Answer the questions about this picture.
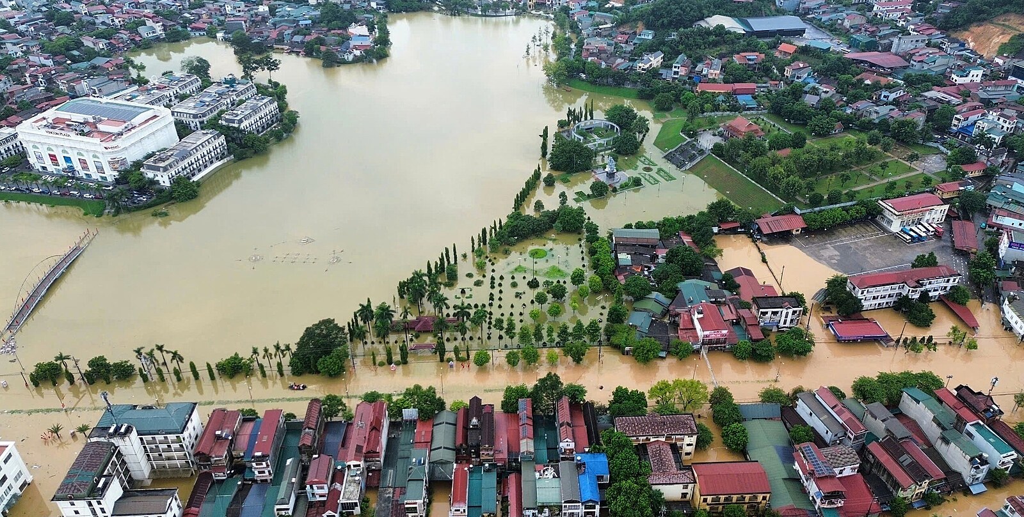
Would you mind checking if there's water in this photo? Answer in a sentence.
Yes, the picture does contain water.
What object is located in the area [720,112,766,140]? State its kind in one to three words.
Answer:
building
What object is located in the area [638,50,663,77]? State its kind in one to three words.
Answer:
house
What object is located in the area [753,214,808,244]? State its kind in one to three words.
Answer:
shed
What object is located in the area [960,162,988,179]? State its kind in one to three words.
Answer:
shed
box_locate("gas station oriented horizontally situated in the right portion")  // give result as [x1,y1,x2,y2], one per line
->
[827,319,890,347]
